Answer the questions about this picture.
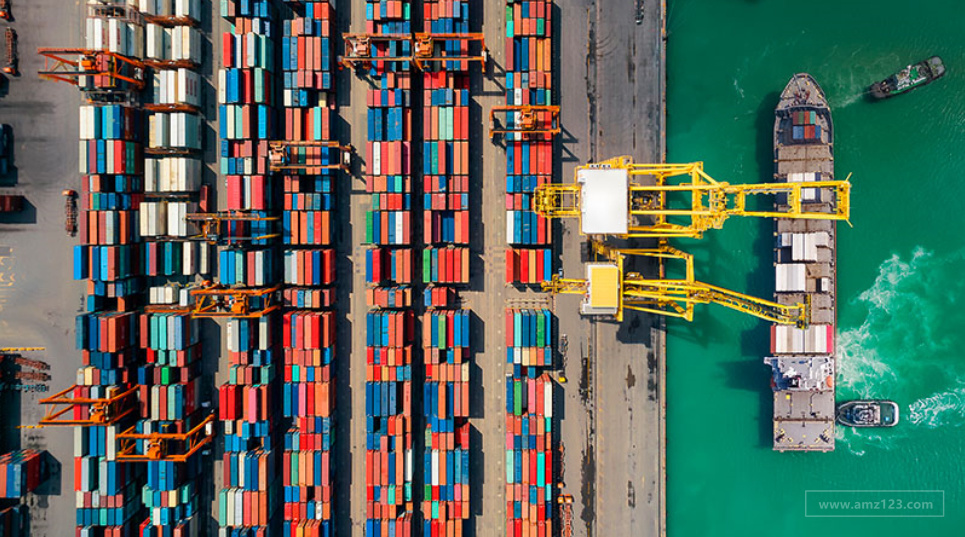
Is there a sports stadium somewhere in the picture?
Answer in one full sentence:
No, I can see no sports stadium in this picture.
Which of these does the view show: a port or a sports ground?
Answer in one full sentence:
The area seen from above is a port.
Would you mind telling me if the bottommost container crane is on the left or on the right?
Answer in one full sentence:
The bottommost container crane appears in the left half of the scene.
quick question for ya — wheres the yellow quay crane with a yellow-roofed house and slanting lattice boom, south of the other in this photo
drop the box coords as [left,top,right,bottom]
[535,237,822,345]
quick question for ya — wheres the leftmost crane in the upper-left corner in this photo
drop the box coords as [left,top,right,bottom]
[38,49,143,89]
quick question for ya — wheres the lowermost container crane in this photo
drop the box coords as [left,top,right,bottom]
[116,411,212,464]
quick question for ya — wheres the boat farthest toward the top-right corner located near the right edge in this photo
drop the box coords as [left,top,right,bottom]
[867,52,948,102]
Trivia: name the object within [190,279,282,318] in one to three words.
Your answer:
container crane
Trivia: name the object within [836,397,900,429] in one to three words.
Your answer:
boat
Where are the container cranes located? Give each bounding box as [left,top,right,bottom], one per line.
[413,33,487,75]
[186,209,279,244]
[489,105,560,142]
[38,49,143,89]
[190,279,282,318]
[535,153,860,240]
[342,33,420,75]
[263,138,353,175]
[535,237,822,345]
[38,380,142,429]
